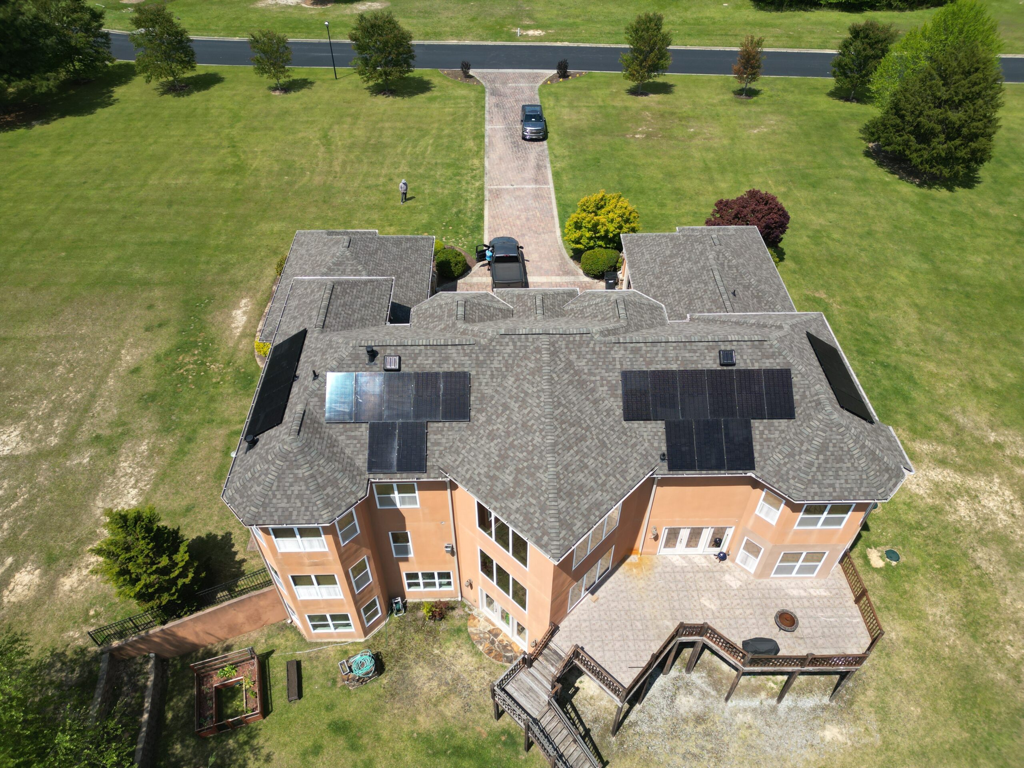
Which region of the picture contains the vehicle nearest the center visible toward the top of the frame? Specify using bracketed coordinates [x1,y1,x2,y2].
[475,230,527,289]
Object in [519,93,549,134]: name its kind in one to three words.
truck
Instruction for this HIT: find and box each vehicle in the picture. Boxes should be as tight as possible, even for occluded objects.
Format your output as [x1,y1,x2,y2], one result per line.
[475,230,527,289]
[519,93,549,134]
